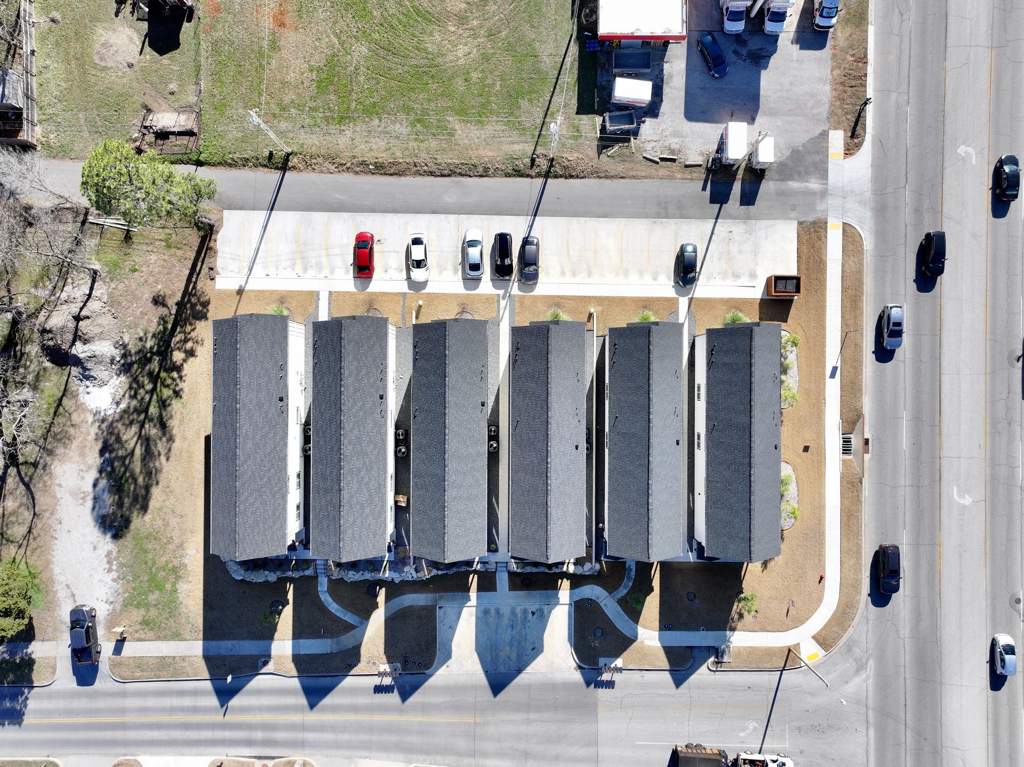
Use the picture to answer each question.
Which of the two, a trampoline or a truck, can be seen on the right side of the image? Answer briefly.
truck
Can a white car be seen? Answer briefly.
Yes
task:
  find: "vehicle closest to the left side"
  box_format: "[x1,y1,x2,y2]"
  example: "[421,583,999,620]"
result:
[70,605,102,665]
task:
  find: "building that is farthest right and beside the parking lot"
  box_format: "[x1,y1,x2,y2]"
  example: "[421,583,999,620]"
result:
[693,320,782,563]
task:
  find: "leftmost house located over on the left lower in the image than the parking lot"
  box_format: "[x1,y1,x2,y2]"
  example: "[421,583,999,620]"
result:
[210,313,305,561]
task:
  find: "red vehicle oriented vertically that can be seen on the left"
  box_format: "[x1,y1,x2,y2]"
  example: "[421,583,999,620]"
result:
[353,233,375,279]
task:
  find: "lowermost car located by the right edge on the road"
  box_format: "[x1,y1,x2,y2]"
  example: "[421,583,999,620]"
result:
[988,633,1015,676]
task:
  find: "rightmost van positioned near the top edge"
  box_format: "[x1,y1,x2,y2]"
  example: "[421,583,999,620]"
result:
[811,0,842,35]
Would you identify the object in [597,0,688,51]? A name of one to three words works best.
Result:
building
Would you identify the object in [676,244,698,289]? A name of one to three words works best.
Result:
car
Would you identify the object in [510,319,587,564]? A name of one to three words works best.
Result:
house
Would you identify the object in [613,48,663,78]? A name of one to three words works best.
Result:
trailer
